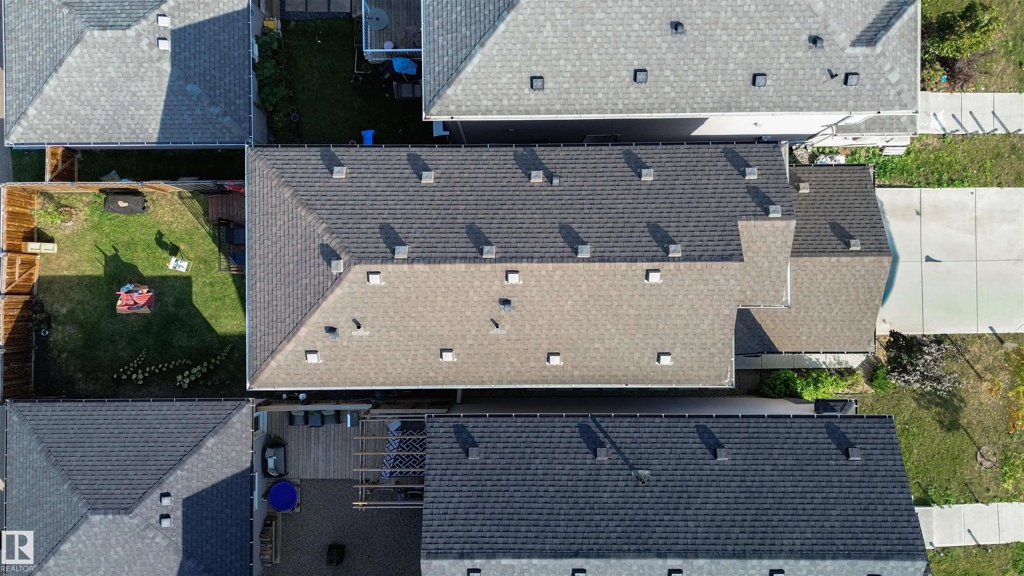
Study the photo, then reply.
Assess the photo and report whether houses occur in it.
Yes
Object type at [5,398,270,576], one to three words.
building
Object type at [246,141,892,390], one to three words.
house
